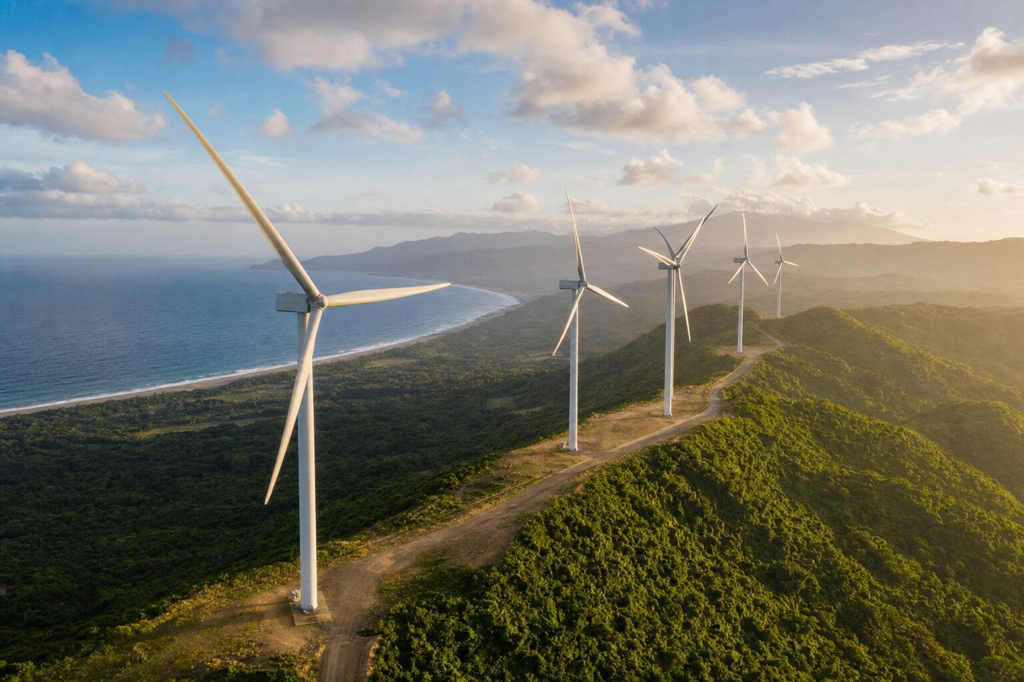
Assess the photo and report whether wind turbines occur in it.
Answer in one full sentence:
Yes, the photo shows a wind turbine.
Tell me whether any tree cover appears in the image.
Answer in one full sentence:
Yes, the picture does contain tree cover.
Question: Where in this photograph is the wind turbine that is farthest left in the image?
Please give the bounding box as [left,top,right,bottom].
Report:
[158,89,448,615]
